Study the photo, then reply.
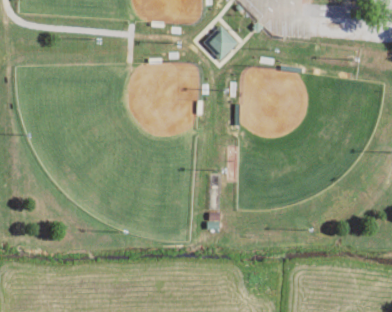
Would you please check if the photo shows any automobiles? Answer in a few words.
No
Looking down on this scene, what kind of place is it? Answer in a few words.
sports ground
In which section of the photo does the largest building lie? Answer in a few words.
top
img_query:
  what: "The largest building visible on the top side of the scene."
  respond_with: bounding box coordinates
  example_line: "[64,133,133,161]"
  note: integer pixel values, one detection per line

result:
[204,26,237,60]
